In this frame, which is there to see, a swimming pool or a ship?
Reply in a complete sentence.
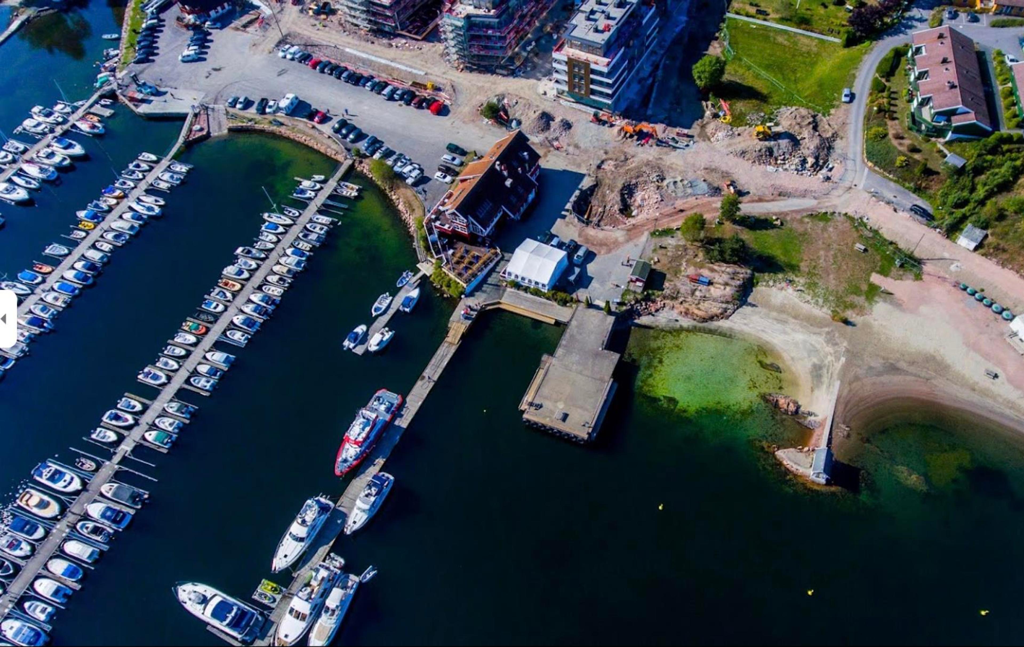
Of the two, only a ship appears.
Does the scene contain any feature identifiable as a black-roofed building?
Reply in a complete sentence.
Yes, this view includes a black-roofed building.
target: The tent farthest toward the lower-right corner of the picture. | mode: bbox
[1002,315,1024,358]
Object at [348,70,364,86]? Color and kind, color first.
black car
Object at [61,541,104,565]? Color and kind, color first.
white boat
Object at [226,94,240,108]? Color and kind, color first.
blue car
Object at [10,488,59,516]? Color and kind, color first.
white boat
